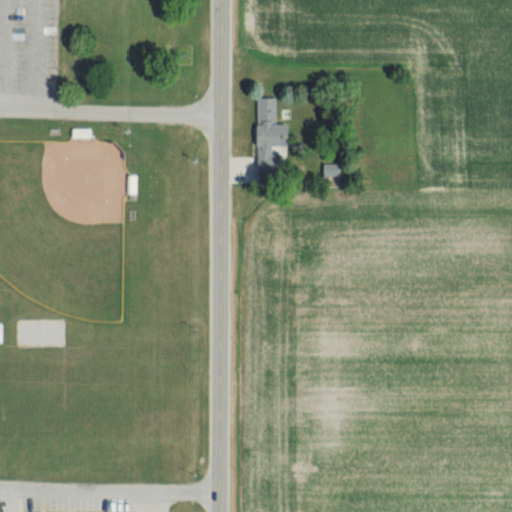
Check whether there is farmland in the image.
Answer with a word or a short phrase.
Yes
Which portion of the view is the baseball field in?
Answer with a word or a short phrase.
left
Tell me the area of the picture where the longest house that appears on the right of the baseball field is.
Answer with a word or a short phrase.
top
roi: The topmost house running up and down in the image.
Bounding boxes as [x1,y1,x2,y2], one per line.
[256,98,288,168]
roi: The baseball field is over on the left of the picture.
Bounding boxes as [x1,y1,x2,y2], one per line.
[0,140,124,322]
